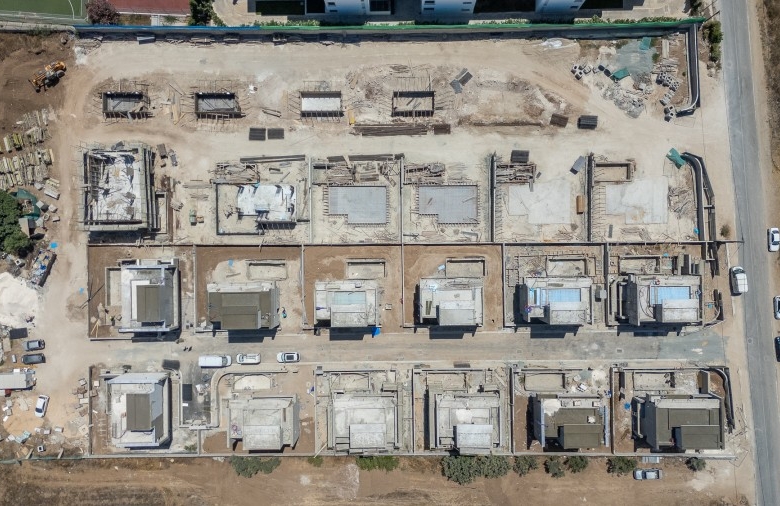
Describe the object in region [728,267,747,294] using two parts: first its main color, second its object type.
white vehicle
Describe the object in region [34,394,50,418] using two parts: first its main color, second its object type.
white car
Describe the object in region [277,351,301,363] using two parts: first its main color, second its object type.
white vehicle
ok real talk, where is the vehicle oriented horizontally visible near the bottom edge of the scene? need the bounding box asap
[632,467,661,481]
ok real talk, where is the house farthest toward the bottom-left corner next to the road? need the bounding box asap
[110,374,174,447]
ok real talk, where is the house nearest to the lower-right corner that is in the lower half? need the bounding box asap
[637,392,720,447]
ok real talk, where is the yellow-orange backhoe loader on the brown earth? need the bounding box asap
[31,65,69,92]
